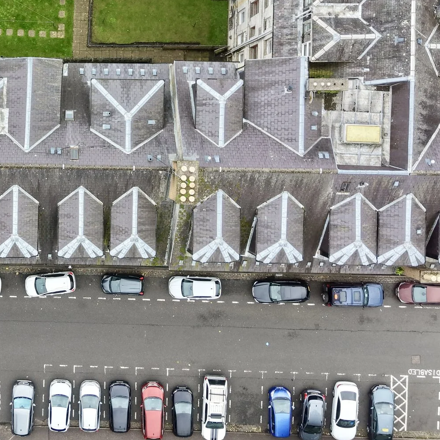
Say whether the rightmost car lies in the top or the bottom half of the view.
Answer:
bottom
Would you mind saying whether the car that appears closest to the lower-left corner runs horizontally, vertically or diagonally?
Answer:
vertically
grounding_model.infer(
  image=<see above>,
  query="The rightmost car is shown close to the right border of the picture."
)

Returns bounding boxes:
[394,280,440,308]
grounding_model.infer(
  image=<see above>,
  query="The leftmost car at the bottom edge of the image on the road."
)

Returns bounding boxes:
[9,377,37,438]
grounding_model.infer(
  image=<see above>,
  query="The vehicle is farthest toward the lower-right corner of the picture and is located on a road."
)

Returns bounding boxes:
[366,384,396,440]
